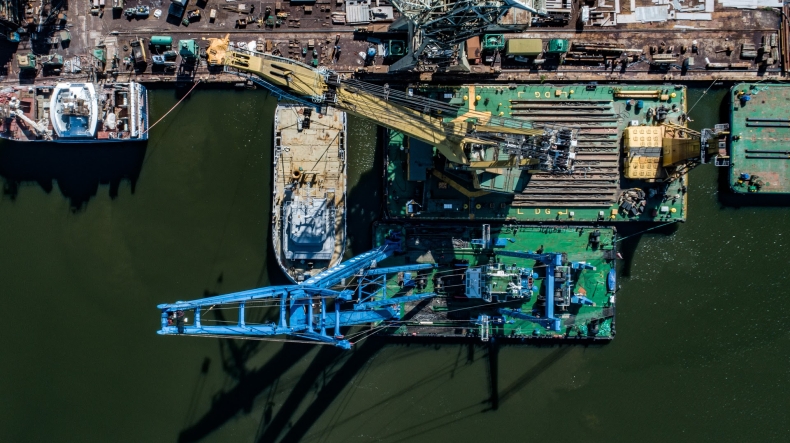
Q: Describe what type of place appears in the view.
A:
port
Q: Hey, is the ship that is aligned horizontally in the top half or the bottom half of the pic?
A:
top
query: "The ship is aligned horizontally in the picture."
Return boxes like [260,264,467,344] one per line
[0,82,148,143]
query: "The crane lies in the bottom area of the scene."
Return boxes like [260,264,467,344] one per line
[153,222,618,350]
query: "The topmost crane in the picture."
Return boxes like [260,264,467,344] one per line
[359,0,559,74]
